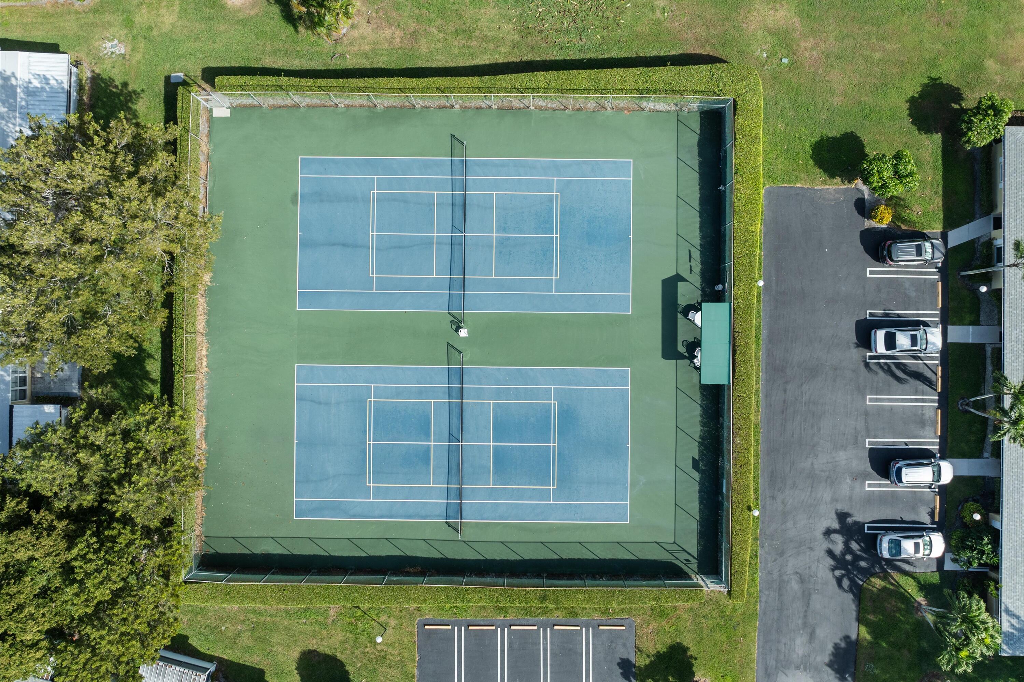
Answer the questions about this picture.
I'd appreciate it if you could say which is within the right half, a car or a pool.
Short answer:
car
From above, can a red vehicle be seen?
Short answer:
No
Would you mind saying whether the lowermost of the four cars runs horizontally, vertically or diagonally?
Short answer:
horizontally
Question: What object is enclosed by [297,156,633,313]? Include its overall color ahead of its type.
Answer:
blue tennis court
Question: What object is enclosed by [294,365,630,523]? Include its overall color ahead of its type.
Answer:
blue tennis court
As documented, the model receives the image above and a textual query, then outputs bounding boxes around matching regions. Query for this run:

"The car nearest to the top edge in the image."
[877,234,946,268]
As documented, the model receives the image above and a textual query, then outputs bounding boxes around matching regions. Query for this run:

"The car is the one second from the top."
[869,324,943,357]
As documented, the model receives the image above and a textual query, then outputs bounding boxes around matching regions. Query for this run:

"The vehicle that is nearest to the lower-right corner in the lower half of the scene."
[875,529,946,562]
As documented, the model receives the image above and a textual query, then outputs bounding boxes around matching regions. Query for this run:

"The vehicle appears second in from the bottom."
[887,457,954,490]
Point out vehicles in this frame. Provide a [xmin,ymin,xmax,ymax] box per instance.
[887,457,954,490]
[869,324,943,357]
[875,529,946,562]
[877,234,946,268]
